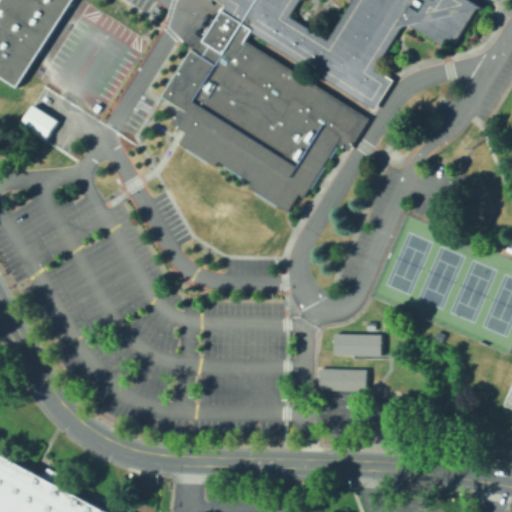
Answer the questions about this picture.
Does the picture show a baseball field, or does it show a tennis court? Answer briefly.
tennis court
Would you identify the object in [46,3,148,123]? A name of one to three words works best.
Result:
sports court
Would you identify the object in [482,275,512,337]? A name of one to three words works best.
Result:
tennis court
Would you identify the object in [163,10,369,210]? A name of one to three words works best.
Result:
building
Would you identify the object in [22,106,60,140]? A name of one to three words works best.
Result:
shed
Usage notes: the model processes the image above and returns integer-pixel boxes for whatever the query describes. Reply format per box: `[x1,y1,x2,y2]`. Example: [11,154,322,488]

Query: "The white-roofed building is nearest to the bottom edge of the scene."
[0,454,106,512]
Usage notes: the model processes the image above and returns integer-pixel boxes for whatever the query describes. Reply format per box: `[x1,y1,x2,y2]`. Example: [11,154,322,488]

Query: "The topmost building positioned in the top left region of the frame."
[0,0,72,88]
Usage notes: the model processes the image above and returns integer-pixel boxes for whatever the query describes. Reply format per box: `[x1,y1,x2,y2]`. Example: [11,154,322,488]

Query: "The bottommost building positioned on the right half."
[318,368,368,391]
